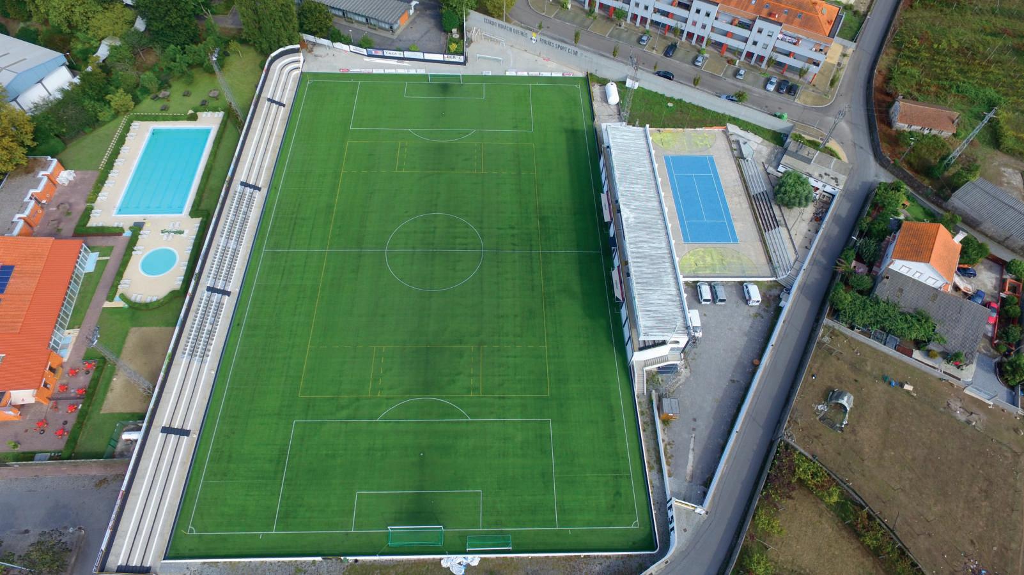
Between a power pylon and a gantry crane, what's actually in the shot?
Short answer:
power pylon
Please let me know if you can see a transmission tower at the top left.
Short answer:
No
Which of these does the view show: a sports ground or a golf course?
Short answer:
sports ground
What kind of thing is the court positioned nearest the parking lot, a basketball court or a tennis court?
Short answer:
tennis court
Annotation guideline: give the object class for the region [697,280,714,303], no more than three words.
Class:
vehicle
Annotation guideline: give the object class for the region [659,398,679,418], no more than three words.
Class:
shed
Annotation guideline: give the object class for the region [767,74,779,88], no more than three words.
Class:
vehicle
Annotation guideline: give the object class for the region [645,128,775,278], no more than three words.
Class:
tennis court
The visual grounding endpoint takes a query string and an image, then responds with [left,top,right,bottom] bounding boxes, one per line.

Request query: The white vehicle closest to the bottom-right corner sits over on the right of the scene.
[744,282,763,304]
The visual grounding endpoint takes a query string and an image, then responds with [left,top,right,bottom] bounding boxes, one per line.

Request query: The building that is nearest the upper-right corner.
[886,90,966,140]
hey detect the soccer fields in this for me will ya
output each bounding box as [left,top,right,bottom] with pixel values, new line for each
[166,72,654,557]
